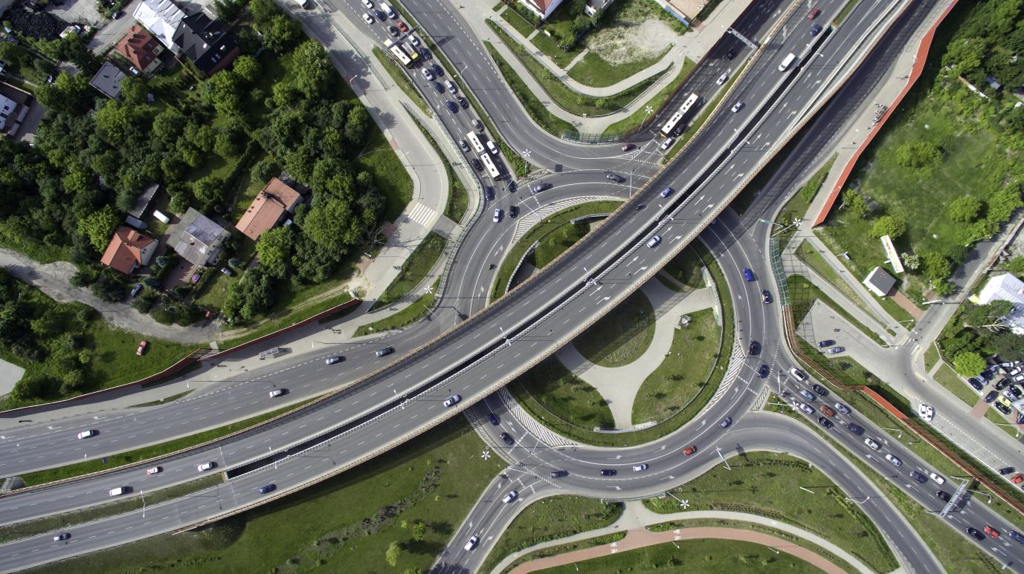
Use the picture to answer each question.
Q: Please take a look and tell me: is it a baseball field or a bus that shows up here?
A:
bus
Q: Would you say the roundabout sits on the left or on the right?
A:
right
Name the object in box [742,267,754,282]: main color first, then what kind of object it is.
blue vehicle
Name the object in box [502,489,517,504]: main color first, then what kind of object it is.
white car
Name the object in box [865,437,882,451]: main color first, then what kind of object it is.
white car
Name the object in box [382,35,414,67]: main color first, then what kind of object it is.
white bus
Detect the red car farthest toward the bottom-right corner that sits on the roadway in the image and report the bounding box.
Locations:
[985,526,1001,539]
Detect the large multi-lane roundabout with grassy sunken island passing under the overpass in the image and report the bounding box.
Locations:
[442,130,913,574]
